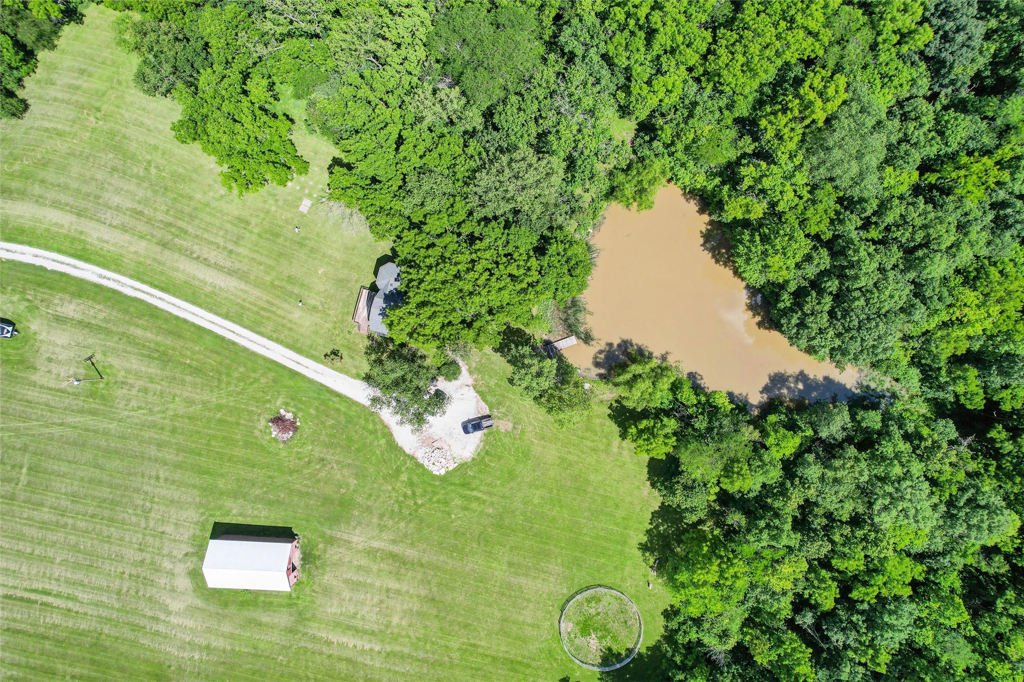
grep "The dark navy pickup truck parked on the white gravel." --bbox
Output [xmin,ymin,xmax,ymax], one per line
[460,416,496,435]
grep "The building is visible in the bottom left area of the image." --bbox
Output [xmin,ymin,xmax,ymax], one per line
[200,536,298,593]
